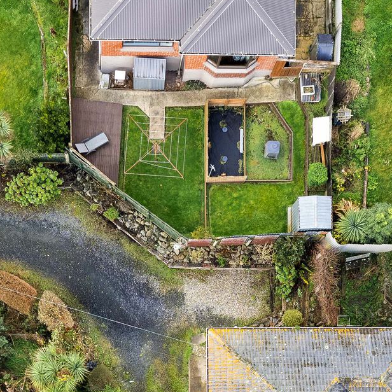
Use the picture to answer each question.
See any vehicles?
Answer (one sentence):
No, there is no vehicle in the image.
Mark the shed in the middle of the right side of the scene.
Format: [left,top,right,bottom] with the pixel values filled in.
[287,196,332,239]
